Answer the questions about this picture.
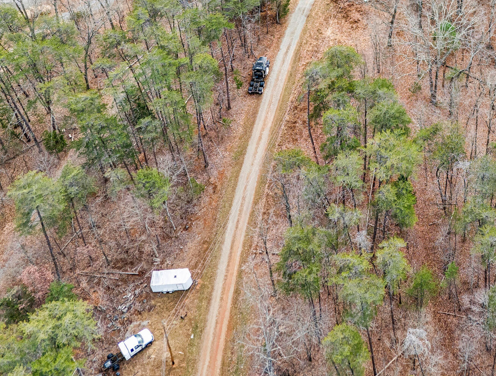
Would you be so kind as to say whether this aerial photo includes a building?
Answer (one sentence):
No, I find no building anywhere in the image.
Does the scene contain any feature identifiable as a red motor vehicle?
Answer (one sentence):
No, there is no red motor vehicle in the image.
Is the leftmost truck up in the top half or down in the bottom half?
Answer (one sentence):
You can find the leftmost truck in the bottom half.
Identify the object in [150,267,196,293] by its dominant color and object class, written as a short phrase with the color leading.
white trailer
